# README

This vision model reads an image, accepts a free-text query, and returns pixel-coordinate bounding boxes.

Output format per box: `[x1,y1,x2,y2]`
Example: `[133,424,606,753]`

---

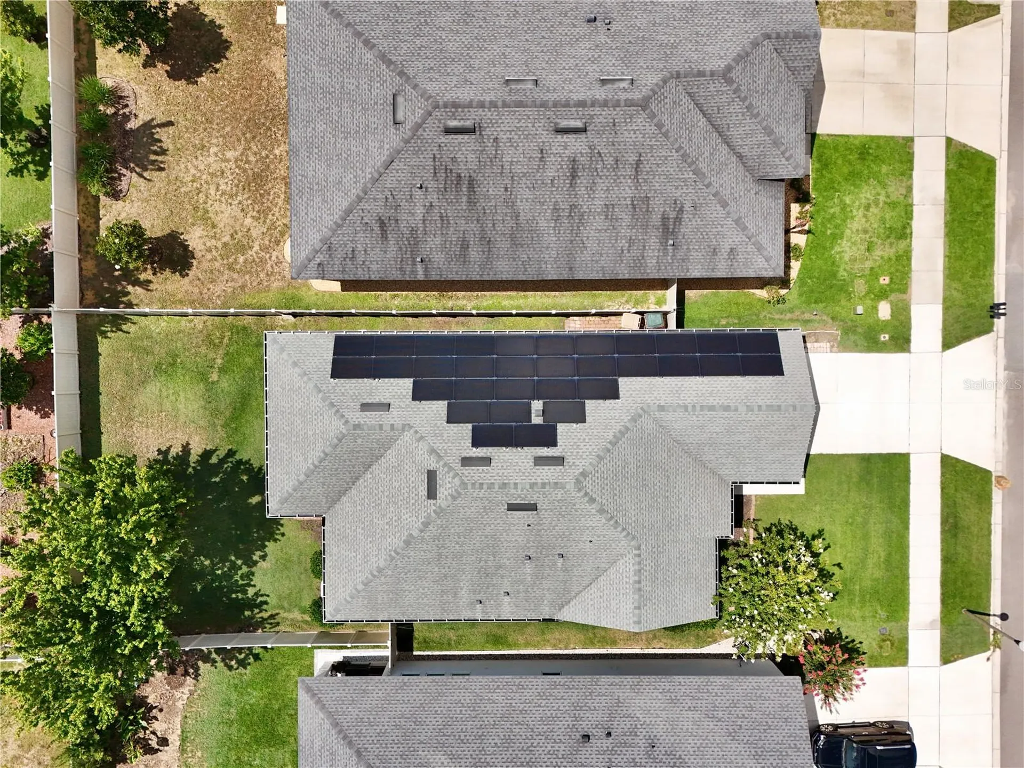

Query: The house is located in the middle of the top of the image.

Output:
[289,0,821,282]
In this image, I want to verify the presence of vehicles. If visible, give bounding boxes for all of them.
[808,721,914,768]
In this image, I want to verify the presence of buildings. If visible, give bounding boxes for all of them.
[264,326,818,632]
[295,659,813,768]
[289,0,821,282]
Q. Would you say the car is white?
No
